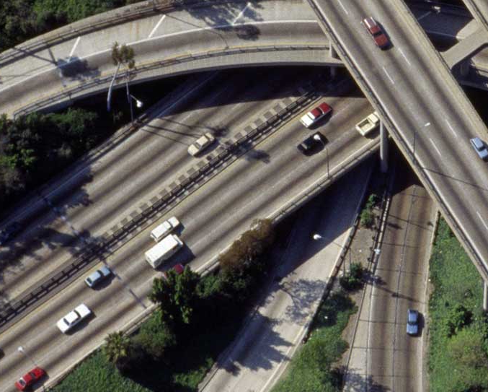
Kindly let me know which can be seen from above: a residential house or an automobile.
automobile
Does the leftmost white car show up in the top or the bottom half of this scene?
bottom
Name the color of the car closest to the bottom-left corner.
red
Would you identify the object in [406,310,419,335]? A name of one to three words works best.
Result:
vehicle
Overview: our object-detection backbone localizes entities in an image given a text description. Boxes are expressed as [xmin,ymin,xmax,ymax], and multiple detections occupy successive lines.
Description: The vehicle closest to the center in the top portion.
[185,133,216,158]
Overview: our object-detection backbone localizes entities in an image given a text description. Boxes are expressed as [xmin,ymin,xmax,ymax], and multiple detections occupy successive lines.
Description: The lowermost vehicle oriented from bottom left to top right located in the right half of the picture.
[298,133,327,157]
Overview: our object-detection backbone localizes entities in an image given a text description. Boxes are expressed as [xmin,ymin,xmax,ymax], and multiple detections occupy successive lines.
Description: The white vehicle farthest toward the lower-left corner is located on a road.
[56,305,92,334]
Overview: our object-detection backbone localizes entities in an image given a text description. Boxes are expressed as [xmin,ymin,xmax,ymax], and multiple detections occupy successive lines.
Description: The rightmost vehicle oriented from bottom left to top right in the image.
[352,113,378,139]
